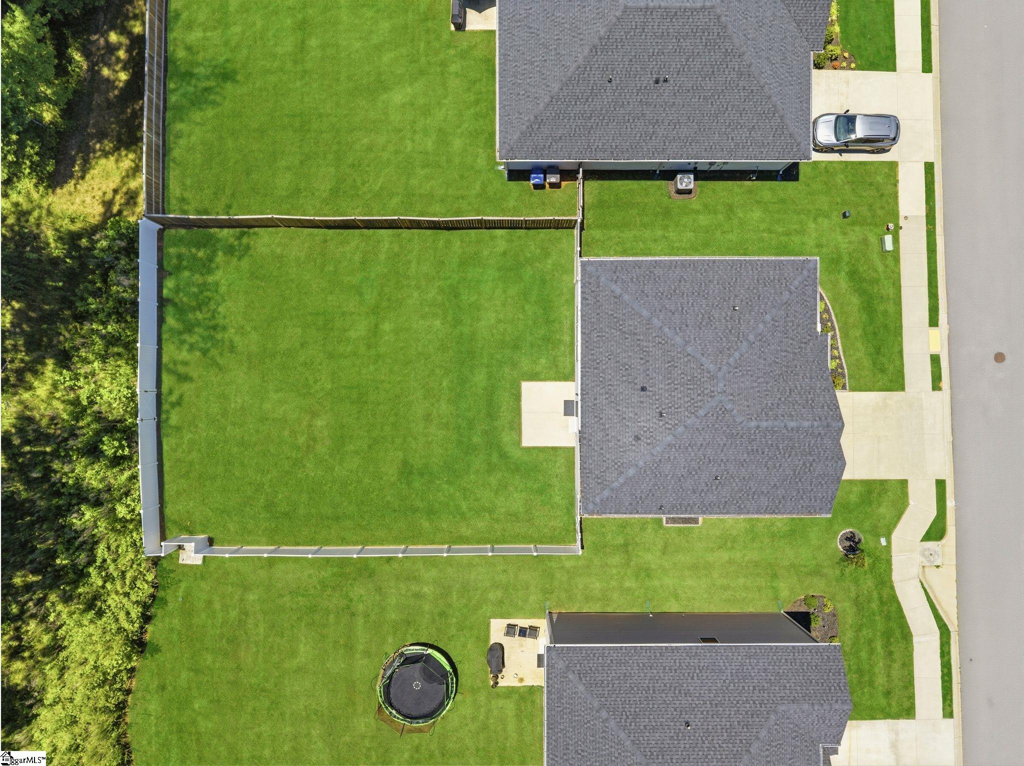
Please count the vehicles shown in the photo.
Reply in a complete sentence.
My tally gives 1 vehicle in this photo.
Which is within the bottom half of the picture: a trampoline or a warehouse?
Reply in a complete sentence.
The feature located within the bottom half of the picture is a trampoline.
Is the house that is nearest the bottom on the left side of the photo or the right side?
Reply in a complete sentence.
It is on the right.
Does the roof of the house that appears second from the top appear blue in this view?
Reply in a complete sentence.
No, the roof of the house that appears second from the top is actually gray.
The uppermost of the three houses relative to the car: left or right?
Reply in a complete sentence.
Compared with the car, the uppermost of the three houses is located further to the left.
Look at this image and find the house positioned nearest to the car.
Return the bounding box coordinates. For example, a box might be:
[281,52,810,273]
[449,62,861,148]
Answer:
[494,0,833,175]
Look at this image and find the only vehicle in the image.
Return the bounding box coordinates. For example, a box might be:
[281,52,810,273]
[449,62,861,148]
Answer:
[814,106,902,152]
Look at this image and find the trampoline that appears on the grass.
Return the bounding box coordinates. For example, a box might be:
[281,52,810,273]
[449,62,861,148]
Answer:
[370,639,464,739]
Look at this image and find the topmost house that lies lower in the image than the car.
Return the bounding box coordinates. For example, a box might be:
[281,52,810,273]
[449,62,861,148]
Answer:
[574,256,847,518]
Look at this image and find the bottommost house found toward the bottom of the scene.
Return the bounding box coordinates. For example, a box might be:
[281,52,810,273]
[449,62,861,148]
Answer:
[542,608,854,766]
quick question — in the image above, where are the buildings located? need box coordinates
[494,0,833,175]
[542,608,854,766]
[574,256,847,518]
